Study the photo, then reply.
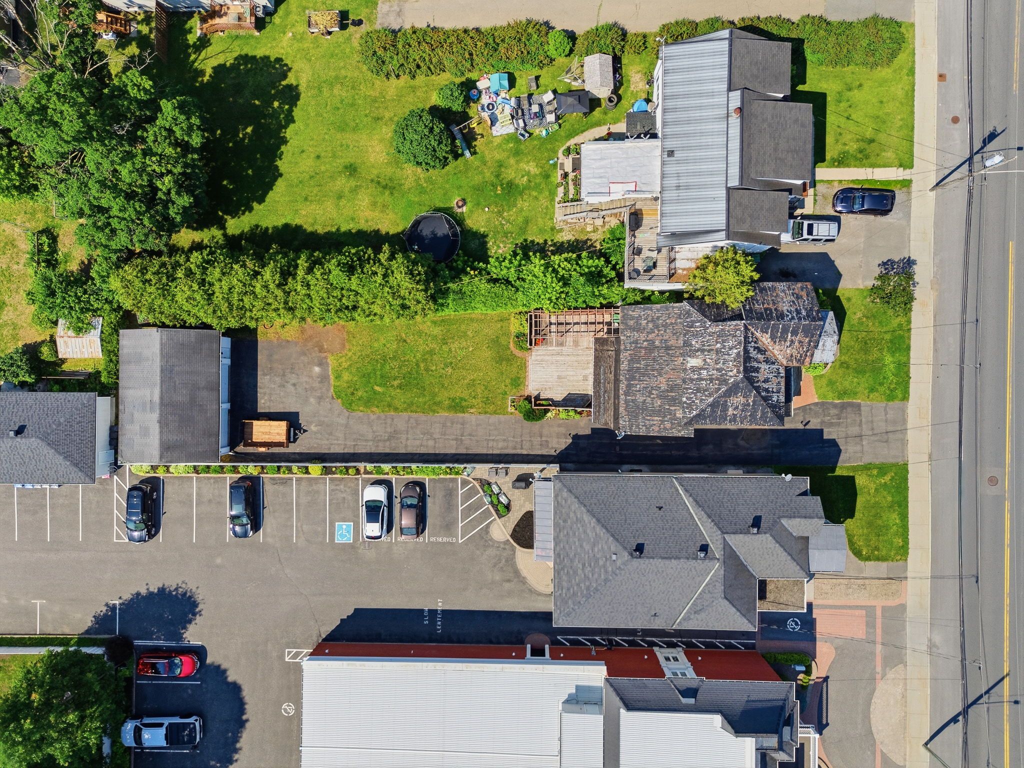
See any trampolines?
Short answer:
Yes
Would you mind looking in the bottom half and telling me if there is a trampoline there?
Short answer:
No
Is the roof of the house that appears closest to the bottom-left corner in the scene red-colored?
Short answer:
No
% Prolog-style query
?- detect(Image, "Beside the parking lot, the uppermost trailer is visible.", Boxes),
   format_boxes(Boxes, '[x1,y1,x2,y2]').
[239,417,301,449]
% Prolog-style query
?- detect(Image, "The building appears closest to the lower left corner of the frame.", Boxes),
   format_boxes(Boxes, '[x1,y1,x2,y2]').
[0,392,117,485]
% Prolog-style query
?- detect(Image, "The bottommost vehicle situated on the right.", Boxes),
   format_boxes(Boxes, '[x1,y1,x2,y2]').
[781,215,835,246]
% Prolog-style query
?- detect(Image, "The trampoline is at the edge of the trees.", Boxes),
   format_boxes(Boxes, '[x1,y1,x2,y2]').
[403,207,457,259]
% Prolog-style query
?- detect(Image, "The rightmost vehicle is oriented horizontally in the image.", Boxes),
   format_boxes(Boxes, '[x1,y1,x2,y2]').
[829,183,896,215]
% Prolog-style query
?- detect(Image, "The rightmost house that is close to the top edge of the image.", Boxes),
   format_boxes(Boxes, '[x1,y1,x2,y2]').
[655,28,818,253]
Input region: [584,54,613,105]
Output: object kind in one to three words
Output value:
shed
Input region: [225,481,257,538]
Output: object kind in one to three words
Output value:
car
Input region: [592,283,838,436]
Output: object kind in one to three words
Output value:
house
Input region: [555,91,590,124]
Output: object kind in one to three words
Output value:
gazebo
